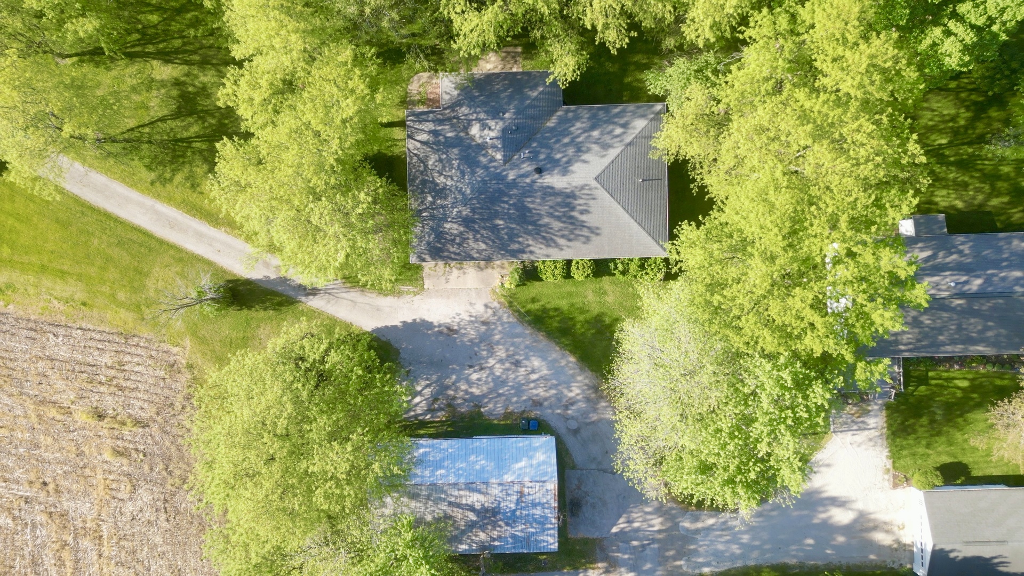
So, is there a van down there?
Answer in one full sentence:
No, no van is visible in the scene.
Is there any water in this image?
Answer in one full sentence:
No, no water is visible.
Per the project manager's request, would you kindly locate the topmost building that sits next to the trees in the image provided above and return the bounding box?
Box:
[405,69,670,264]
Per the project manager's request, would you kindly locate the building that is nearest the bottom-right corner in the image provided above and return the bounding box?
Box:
[912,483,1024,576]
